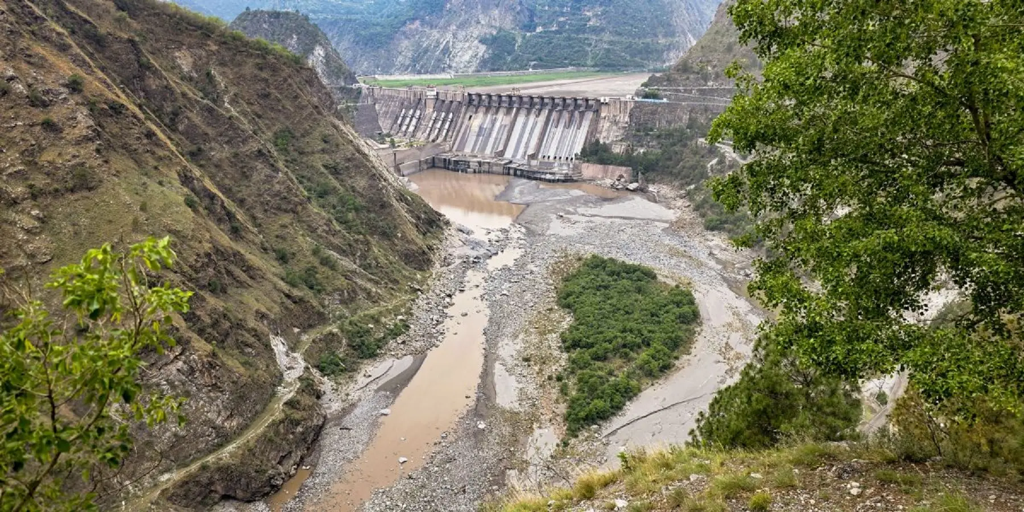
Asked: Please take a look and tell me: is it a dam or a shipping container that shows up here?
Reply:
dam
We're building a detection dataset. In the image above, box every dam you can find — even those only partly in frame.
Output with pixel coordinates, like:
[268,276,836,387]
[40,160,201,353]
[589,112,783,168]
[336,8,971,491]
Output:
[364,86,633,162]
